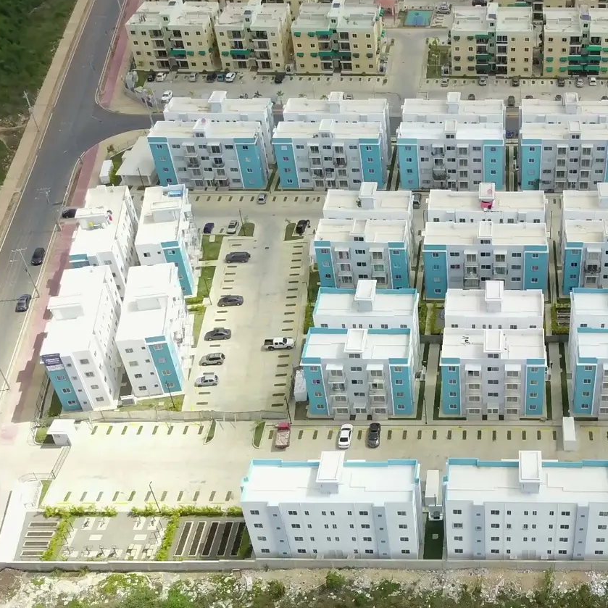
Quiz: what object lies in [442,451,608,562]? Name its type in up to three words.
building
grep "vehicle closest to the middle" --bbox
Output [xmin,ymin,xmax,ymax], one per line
[264,336,294,350]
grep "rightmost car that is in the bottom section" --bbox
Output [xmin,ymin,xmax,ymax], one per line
[367,422,382,446]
